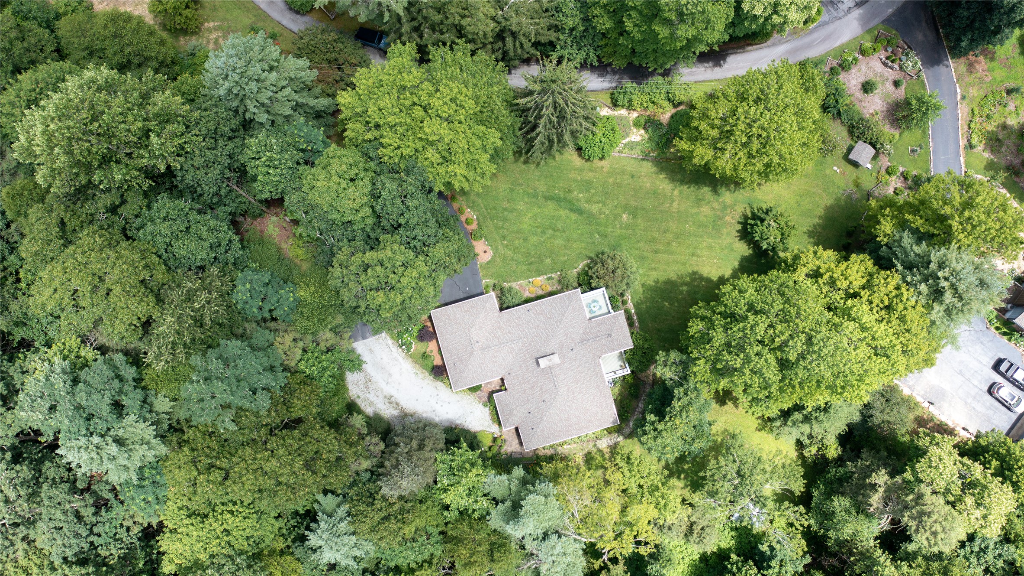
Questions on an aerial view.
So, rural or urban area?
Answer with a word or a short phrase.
rural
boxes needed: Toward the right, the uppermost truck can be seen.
[998,354,1024,391]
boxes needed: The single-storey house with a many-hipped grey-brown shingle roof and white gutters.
[430,287,635,452]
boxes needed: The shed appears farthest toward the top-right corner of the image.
[842,141,874,169]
